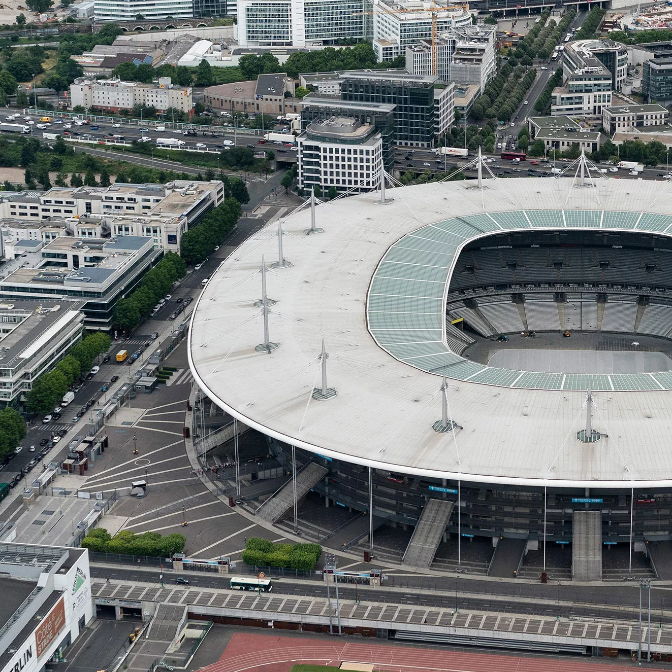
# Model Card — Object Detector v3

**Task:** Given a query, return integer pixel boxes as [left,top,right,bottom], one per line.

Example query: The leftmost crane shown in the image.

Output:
[350,0,472,76]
